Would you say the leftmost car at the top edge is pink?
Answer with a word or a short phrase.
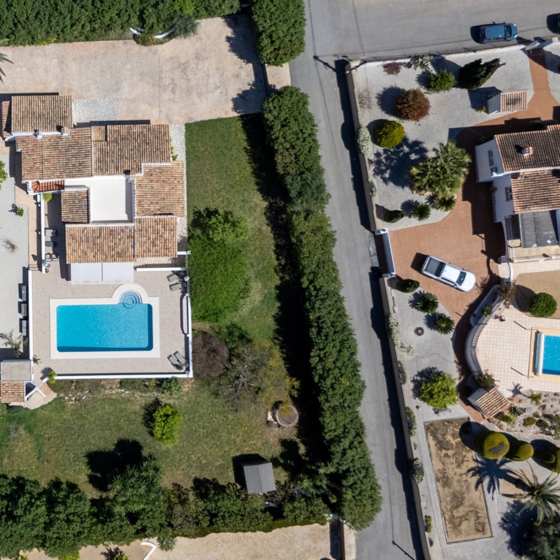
No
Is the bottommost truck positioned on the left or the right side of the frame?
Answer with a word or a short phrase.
right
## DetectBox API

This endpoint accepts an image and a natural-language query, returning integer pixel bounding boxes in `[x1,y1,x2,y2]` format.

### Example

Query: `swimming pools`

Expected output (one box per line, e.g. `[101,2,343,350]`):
[50,284,159,359]
[529,328,560,383]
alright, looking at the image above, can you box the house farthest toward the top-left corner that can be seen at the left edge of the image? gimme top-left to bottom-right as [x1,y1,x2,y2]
[1,94,186,264]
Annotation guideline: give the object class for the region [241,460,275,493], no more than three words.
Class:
shed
